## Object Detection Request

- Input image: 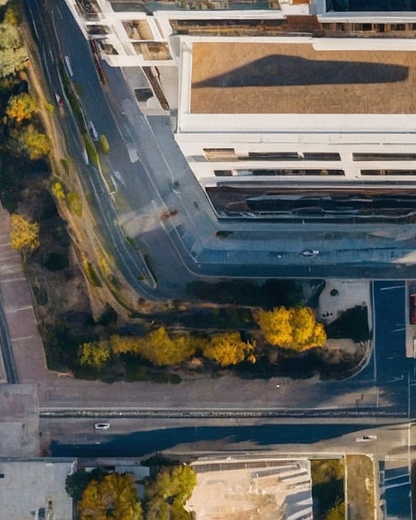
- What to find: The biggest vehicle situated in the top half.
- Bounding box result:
[89,48,104,74]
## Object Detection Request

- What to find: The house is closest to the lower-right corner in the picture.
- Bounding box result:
[185,458,312,520]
